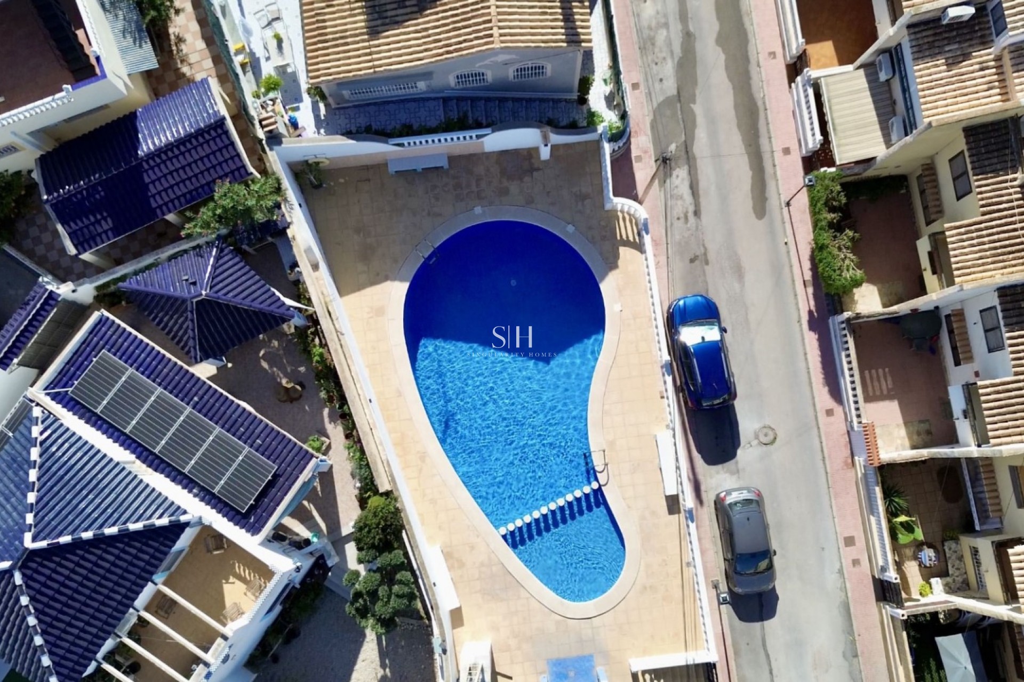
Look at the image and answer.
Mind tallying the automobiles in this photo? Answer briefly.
2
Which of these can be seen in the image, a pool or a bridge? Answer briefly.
pool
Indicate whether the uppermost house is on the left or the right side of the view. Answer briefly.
right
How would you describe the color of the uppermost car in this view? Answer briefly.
blue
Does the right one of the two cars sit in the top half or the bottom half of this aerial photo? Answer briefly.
bottom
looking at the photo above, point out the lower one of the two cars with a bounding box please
[712,485,781,599]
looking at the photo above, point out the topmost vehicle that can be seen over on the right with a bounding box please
[666,295,734,412]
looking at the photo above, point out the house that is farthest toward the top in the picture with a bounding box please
[875,0,934,35]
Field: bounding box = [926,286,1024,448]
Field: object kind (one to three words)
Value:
house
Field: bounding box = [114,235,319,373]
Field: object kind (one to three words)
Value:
gazebo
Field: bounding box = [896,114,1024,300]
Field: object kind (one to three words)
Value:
house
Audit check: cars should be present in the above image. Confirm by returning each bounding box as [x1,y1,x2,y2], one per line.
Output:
[712,485,781,599]
[666,295,734,412]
